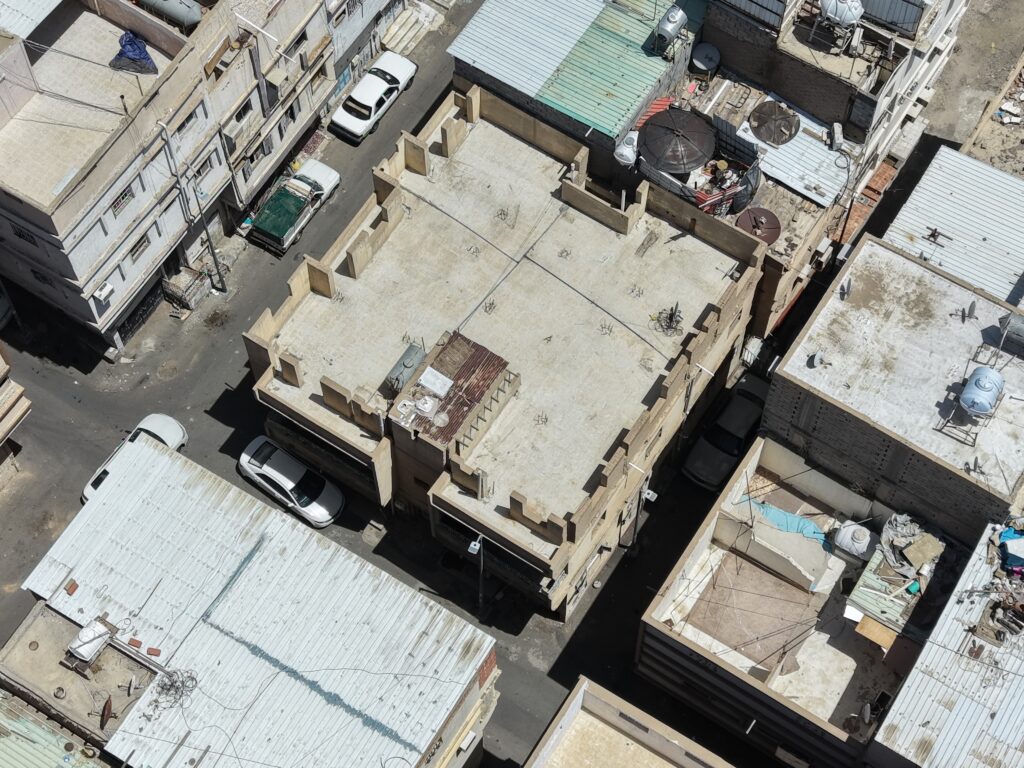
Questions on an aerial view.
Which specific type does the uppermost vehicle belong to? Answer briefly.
automobile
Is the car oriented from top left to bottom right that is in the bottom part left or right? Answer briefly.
left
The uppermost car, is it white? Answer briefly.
Yes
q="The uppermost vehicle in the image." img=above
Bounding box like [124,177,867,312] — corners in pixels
[328,50,421,147]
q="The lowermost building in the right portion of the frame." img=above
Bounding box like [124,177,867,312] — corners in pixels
[521,679,726,768]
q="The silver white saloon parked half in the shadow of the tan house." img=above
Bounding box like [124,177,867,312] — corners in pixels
[231,443,343,537]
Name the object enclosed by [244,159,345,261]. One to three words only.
vehicle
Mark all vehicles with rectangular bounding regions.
[231,443,343,537]
[328,50,421,147]
[683,376,776,492]
[244,159,345,261]
[86,420,184,508]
